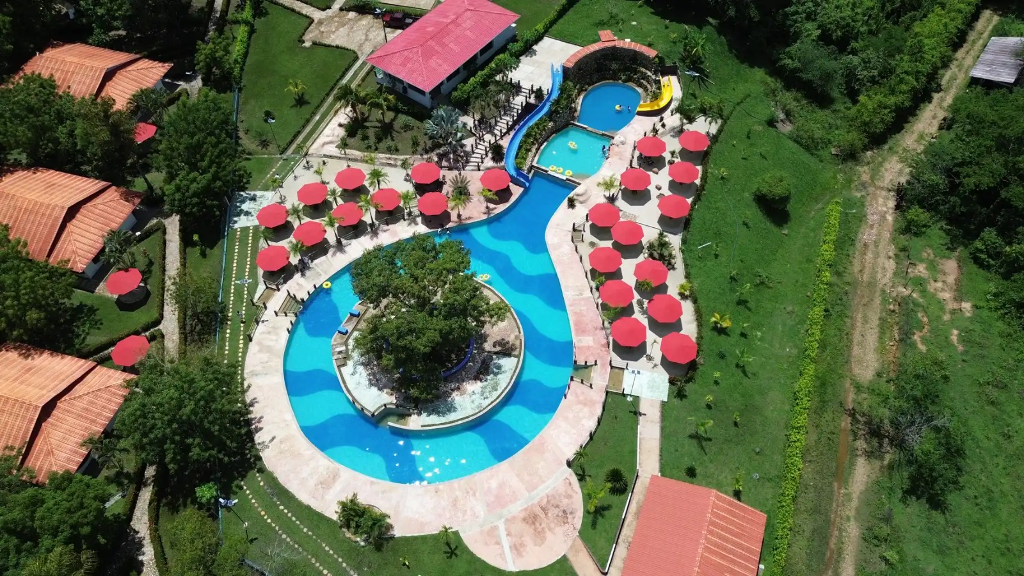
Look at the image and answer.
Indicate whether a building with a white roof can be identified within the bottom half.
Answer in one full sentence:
No, there's no building with a white roof to be seen within the bottom half.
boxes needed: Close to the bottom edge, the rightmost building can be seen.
[621,474,767,576]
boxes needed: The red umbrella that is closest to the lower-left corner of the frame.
[111,336,150,367]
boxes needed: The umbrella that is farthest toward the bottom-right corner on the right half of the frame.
[659,333,697,364]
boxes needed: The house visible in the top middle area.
[363,0,521,108]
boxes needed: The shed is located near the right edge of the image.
[963,36,1024,92]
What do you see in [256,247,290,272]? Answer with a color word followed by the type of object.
red umbrella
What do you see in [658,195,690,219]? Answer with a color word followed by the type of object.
red umbrella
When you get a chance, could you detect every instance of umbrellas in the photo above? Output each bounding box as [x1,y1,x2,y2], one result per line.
[599,281,633,308]
[292,221,327,246]
[587,204,620,228]
[333,203,364,227]
[636,137,666,158]
[133,123,161,145]
[647,295,683,323]
[621,169,651,192]
[256,247,290,272]
[611,221,644,246]
[610,318,646,348]
[411,163,441,186]
[587,247,622,274]
[334,169,365,192]
[634,260,668,286]
[480,169,511,192]
[659,333,697,364]
[658,195,690,219]
[417,193,449,216]
[256,205,289,229]
[679,132,708,154]
[668,162,699,185]
[296,183,328,207]
[371,189,402,213]
[111,336,150,367]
